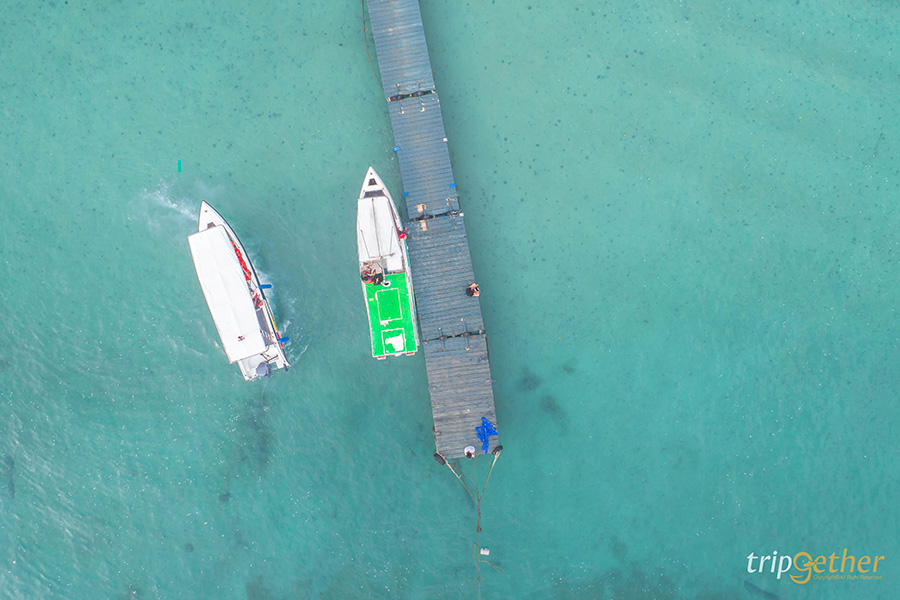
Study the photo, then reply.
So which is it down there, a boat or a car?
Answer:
boat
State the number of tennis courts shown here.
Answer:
0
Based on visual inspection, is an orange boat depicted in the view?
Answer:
No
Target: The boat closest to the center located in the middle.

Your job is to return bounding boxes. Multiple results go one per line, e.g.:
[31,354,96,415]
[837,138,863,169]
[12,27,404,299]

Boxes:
[356,166,419,362]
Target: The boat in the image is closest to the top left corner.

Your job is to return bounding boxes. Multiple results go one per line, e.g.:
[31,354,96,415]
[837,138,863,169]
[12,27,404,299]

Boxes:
[188,200,288,380]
